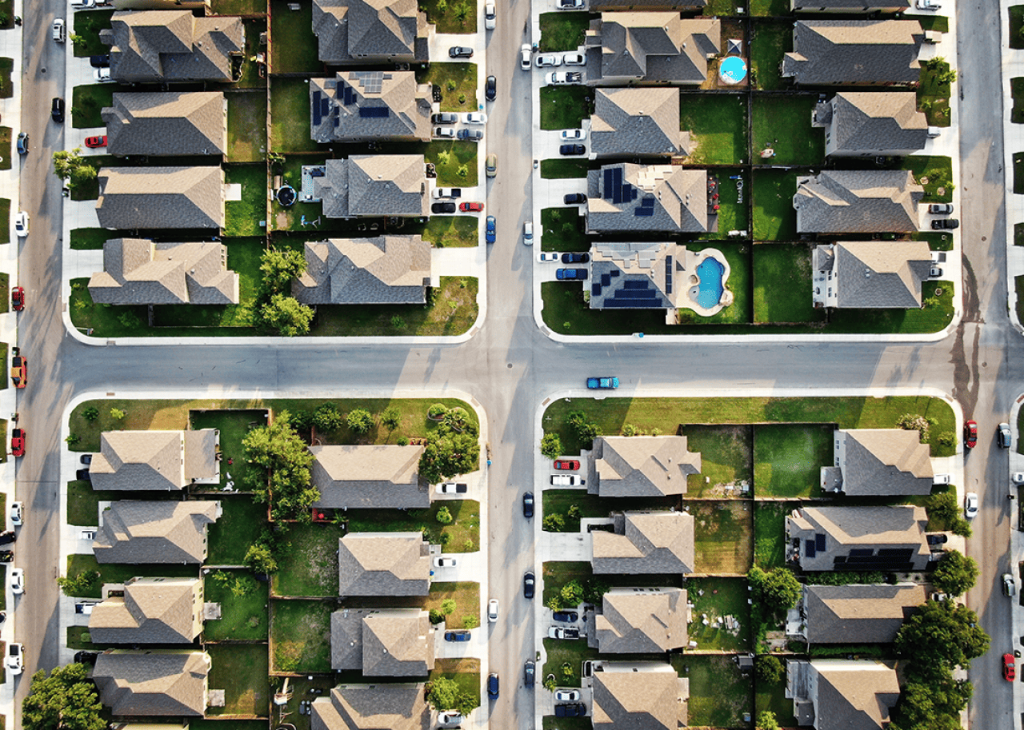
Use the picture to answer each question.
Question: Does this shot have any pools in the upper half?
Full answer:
Yes, in the upper half there is a pool.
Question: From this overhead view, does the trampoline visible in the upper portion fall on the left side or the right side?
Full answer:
It is on the left.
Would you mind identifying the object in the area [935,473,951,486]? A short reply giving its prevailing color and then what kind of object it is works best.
white vehicle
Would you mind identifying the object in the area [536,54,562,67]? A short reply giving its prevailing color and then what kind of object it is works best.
white vehicle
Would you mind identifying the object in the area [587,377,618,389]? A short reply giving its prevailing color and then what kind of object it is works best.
blue vehicle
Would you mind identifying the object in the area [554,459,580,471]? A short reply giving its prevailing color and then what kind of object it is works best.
red vehicle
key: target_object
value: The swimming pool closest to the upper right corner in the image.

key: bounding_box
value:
[719,56,748,85]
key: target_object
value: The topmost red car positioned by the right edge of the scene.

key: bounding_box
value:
[963,421,978,447]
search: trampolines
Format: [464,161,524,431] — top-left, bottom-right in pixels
[275,183,297,205]
[275,720,296,730]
